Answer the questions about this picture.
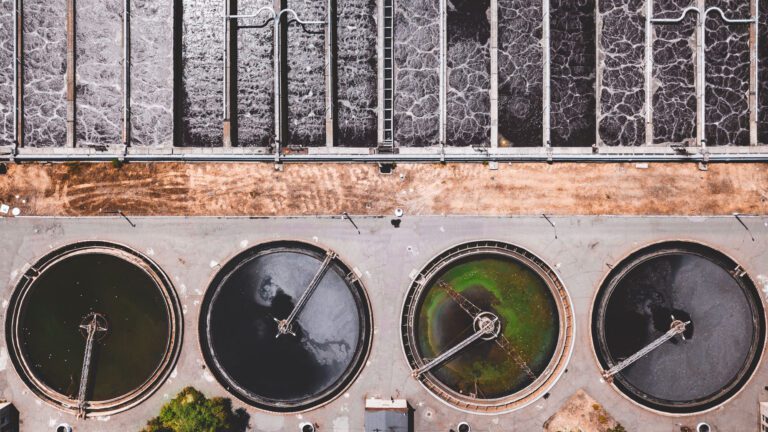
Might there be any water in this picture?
Yes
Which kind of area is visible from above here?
industrial area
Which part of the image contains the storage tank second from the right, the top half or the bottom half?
bottom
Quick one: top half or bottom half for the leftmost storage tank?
bottom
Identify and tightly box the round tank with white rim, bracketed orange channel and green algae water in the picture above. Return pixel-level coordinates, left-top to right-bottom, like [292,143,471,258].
[400,240,574,414]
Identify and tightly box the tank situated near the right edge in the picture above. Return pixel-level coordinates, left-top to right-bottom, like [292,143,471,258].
[592,240,766,414]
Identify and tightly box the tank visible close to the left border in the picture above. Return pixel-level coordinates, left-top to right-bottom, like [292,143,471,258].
[4,240,182,418]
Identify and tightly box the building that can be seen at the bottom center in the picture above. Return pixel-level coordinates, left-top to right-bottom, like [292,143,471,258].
[365,399,408,432]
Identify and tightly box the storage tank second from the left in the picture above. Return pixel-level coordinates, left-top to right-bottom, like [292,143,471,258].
[199,240,373,414]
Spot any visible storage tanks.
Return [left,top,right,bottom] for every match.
[199,240,373,414]
[4,240,182,418]
[400,240,574,414]
[592,240,766,414]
